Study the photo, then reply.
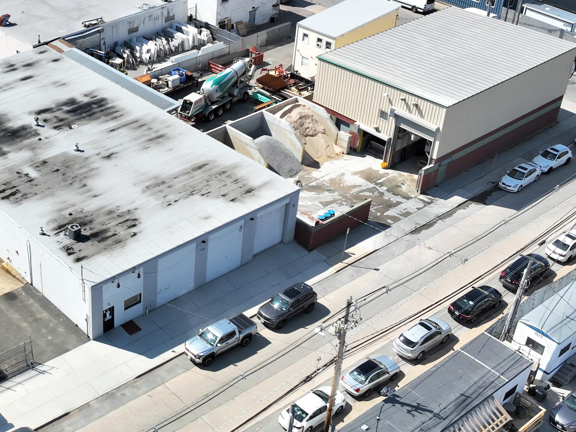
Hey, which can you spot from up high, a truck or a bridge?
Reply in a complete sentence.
There is a truck in the scene.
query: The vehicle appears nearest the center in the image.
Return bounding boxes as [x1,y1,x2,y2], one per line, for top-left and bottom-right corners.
[259,284,320,330]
